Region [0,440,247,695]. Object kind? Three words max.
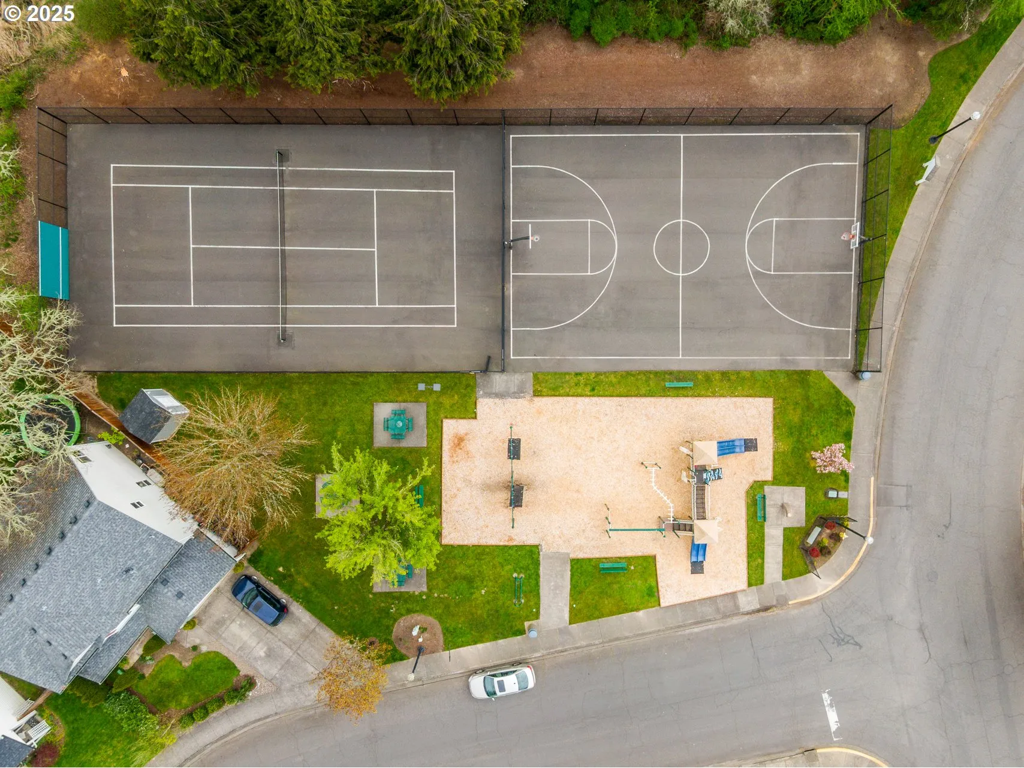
house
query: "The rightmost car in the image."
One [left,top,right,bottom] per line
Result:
[468,661,538,702]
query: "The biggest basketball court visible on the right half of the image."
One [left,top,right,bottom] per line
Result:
[505,125,866,372]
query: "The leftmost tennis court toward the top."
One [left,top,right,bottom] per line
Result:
[67,123,502,371]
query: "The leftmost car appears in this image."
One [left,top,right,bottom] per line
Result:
[230,573,290,629]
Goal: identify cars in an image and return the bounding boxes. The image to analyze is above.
[468,661,538,702]
[230,573,290,629]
